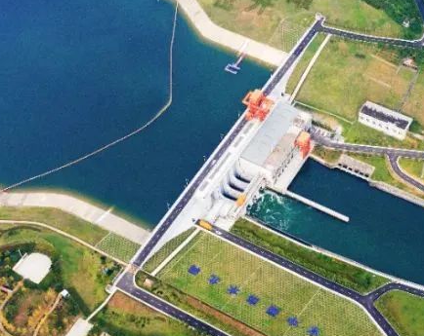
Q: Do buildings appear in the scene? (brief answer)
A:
Yes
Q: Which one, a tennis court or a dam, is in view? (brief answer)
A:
dam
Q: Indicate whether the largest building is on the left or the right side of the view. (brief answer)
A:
right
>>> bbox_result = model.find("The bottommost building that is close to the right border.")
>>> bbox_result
[359,100,414,138]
